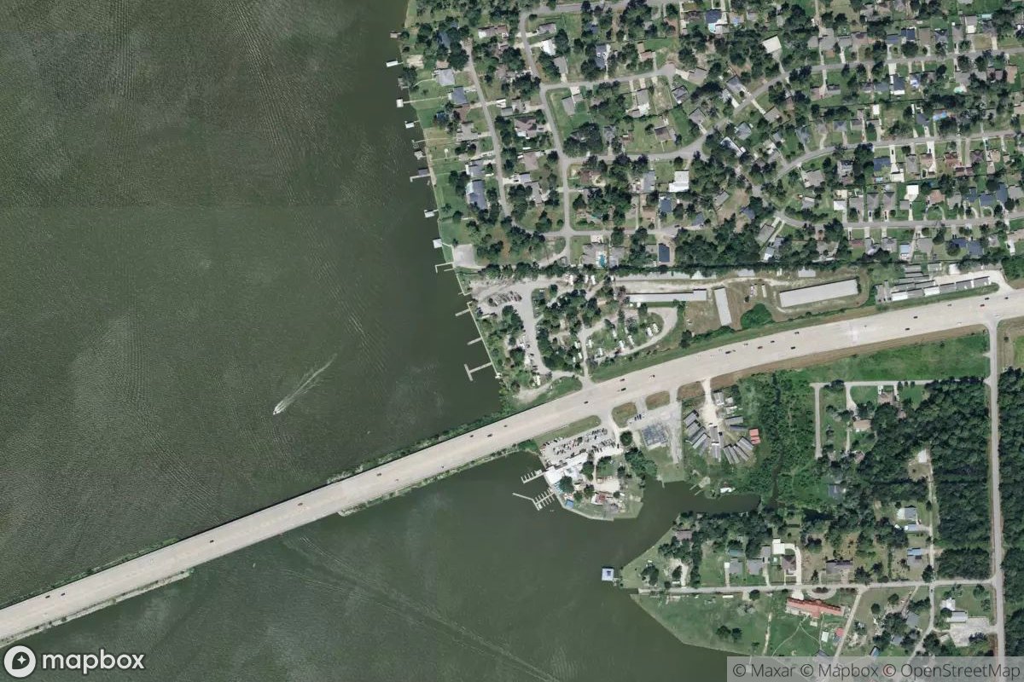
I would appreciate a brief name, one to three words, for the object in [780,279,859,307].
building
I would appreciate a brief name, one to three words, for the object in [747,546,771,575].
house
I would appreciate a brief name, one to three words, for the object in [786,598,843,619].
building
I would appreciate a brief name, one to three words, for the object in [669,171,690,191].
house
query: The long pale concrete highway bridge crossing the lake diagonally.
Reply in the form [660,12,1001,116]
[0,420,510,639]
